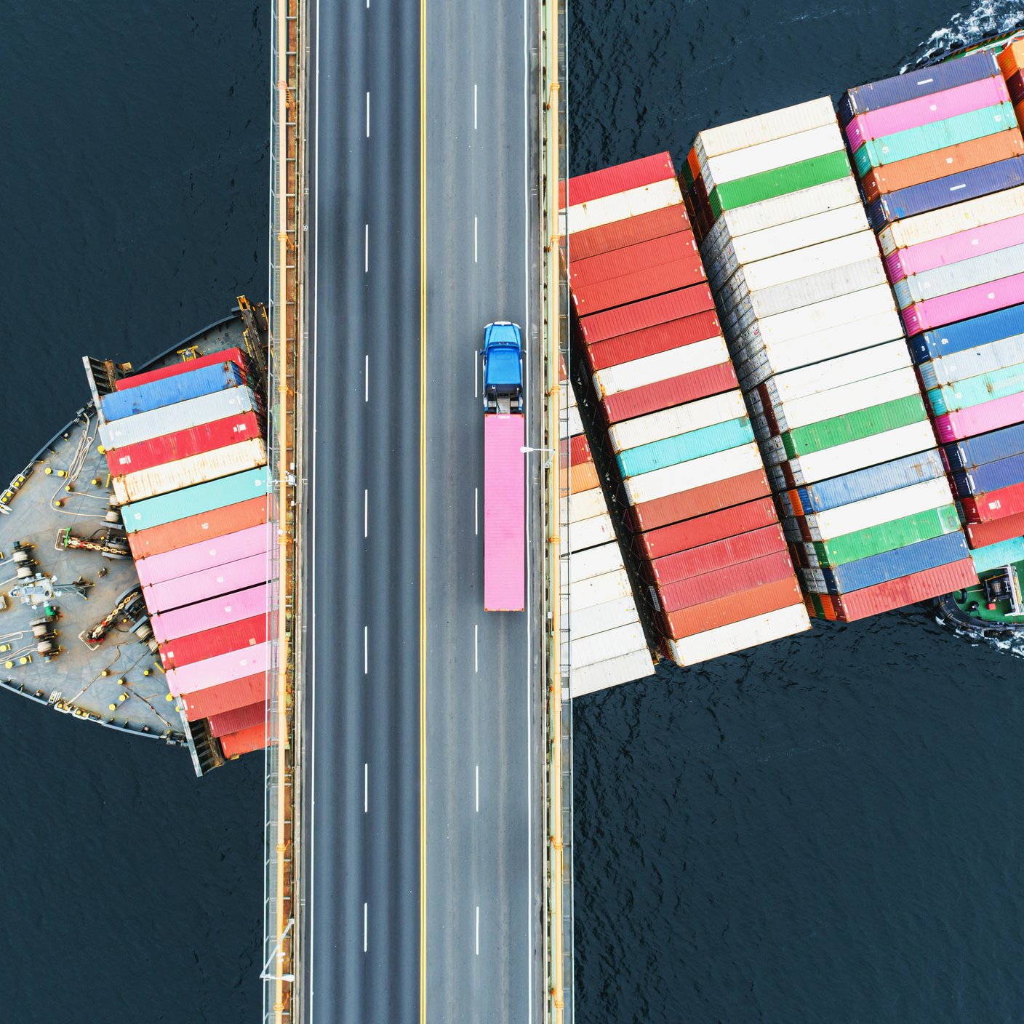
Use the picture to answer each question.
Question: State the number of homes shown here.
0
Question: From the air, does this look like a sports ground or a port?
port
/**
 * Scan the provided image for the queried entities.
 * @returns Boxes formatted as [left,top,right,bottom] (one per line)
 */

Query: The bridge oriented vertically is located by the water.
[265,0,575,1024]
